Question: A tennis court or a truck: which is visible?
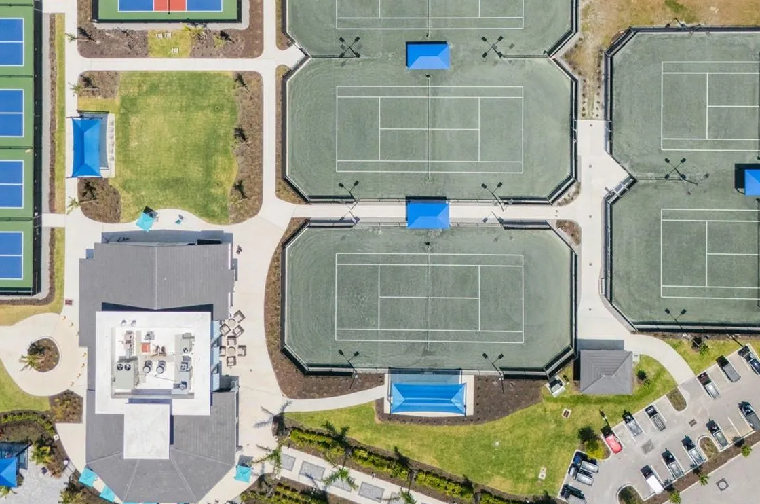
tennis court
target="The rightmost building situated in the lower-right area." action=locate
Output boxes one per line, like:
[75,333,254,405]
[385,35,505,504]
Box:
[580,346,633,394]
